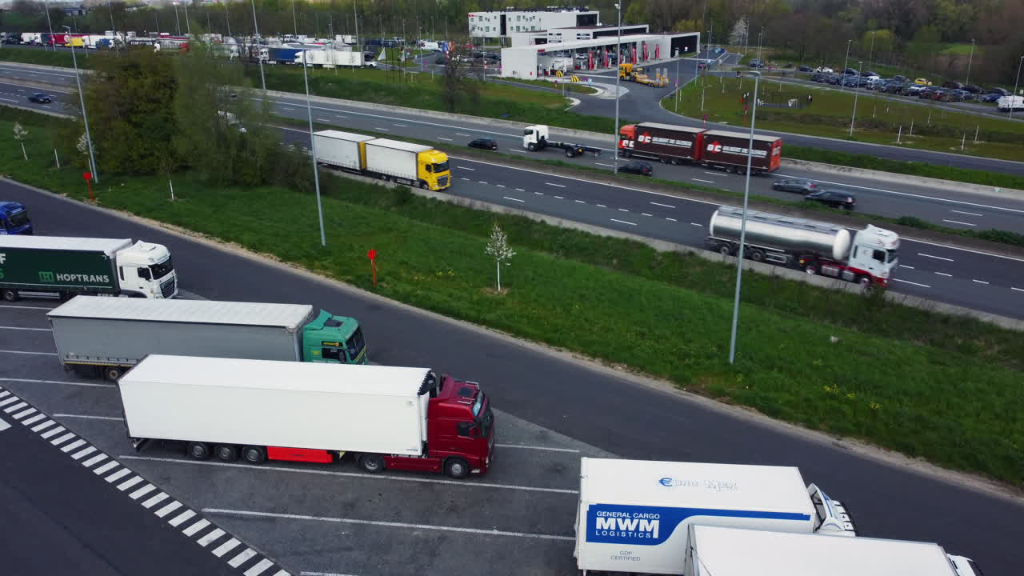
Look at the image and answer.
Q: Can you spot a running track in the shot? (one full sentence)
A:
No, I find no running track anywhere in the image.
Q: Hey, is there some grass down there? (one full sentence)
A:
Yes, grass can be seen from above here.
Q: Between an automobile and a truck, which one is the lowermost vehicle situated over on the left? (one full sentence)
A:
The lowermost vehicle situated over on the left appears to be a truck.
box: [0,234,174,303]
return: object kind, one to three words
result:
truck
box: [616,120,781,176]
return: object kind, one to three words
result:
truck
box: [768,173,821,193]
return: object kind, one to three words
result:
car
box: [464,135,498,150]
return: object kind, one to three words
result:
car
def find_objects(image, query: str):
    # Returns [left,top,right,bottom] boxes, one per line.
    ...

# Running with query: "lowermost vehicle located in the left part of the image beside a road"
[116,354,494,476]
